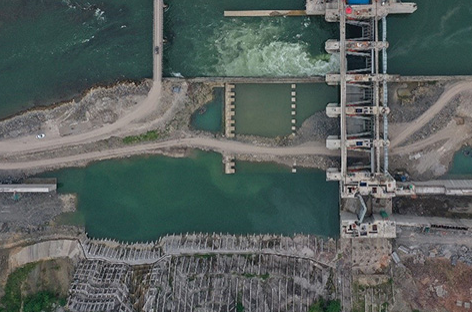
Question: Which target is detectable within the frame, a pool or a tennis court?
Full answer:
I can see a pool in this picture.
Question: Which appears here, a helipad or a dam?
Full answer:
Visible in the photo is a dam.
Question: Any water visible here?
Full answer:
Yes, water can be seen from above here.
